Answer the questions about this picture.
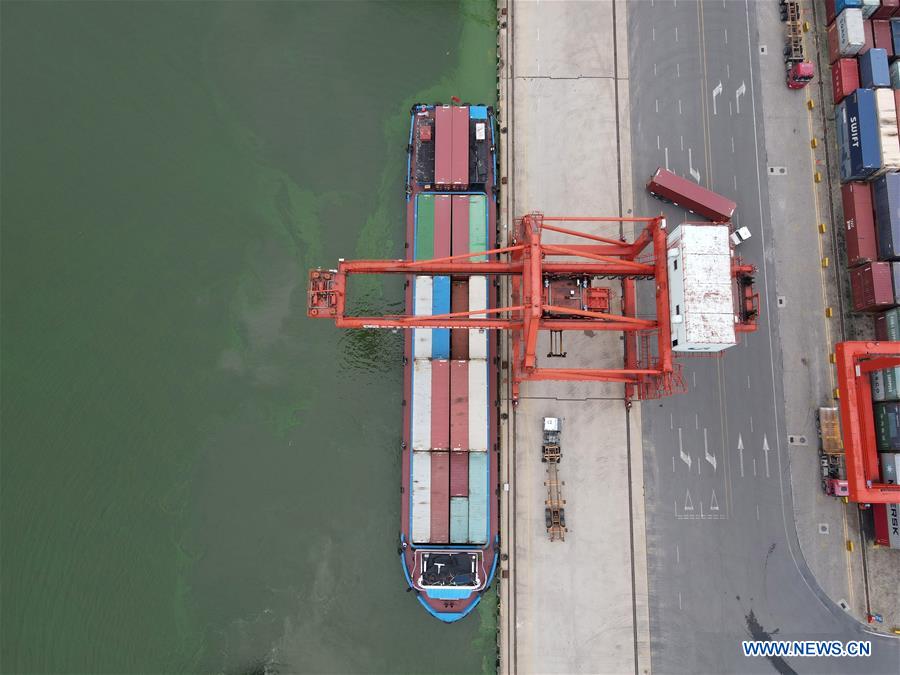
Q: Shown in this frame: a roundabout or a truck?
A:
truck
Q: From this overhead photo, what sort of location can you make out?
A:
port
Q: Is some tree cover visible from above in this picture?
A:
No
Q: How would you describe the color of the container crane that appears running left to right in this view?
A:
red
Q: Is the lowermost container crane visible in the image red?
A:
Yes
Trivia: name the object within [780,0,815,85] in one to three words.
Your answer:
truck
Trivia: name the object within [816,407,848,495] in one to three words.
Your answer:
truck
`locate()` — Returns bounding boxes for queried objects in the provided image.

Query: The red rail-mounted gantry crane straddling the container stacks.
[834,341,900,511]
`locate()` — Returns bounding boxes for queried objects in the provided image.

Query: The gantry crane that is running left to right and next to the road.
[308,206,766,407]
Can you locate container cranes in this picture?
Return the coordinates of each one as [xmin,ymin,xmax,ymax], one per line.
[308,206,766,407]
[834,341,900,511]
